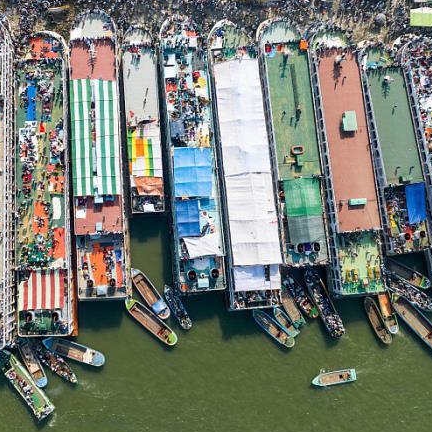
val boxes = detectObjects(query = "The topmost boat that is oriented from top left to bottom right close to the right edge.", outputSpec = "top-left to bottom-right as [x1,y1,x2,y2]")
[384,258,421,288]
